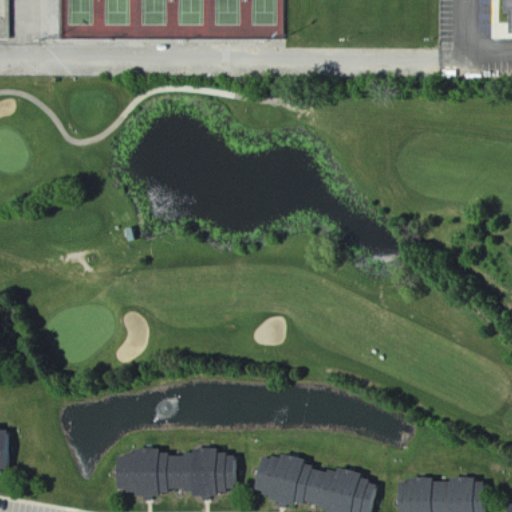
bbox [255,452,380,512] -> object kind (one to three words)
house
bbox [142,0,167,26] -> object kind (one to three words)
tennis court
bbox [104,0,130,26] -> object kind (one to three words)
tennis court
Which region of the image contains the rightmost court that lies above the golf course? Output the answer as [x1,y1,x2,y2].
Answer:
[252,0,277,26]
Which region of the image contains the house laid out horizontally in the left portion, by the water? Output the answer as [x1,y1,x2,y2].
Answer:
[116,448,239,500]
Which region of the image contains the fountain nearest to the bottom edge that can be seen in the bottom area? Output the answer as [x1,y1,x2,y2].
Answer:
[154,396,180,422]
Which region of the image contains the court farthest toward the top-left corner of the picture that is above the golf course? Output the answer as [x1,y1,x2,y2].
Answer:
[68,0,94,26]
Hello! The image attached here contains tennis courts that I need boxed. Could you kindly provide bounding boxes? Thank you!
[104,0,130,26]
[142,0,167,26]
[252,0,277,26]
[214,0,240,26]
[178,0,204,26]
[68,0,94,26]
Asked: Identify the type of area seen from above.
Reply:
golf course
